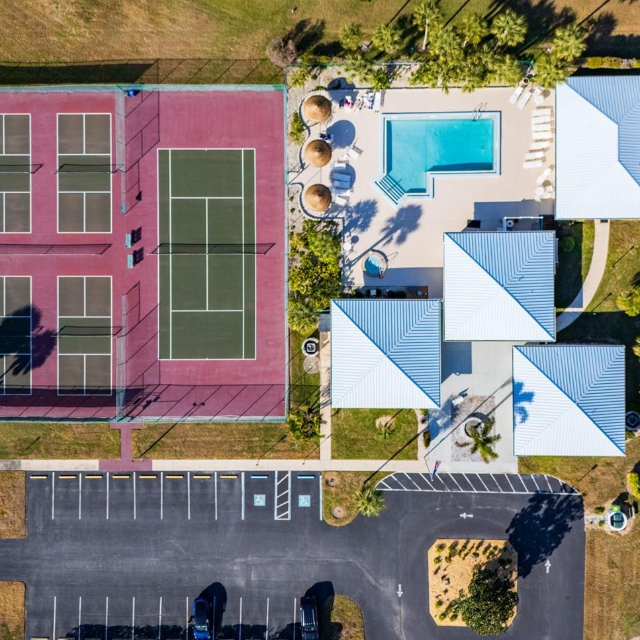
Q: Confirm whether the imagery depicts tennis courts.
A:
Yes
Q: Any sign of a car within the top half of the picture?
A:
No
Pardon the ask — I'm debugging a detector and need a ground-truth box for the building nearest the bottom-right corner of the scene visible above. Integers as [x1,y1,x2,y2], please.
[512,344,626,457]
